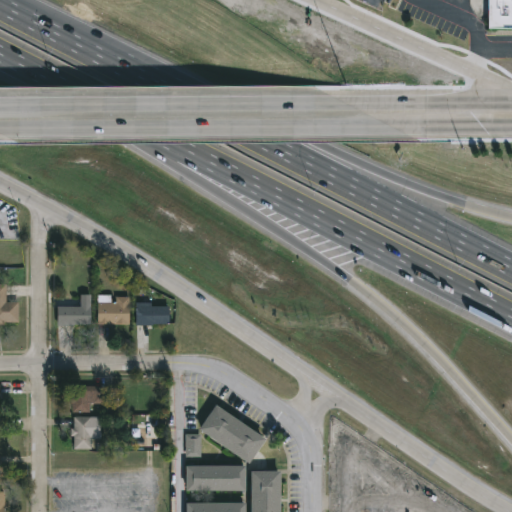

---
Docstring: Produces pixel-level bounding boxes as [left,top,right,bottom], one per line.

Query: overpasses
[0,86,432,145]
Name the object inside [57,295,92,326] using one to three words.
house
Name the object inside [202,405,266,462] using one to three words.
building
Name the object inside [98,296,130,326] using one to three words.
house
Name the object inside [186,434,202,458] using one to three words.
building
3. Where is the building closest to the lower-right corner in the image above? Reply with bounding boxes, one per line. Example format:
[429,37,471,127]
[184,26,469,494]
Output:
[252,472,282,512]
